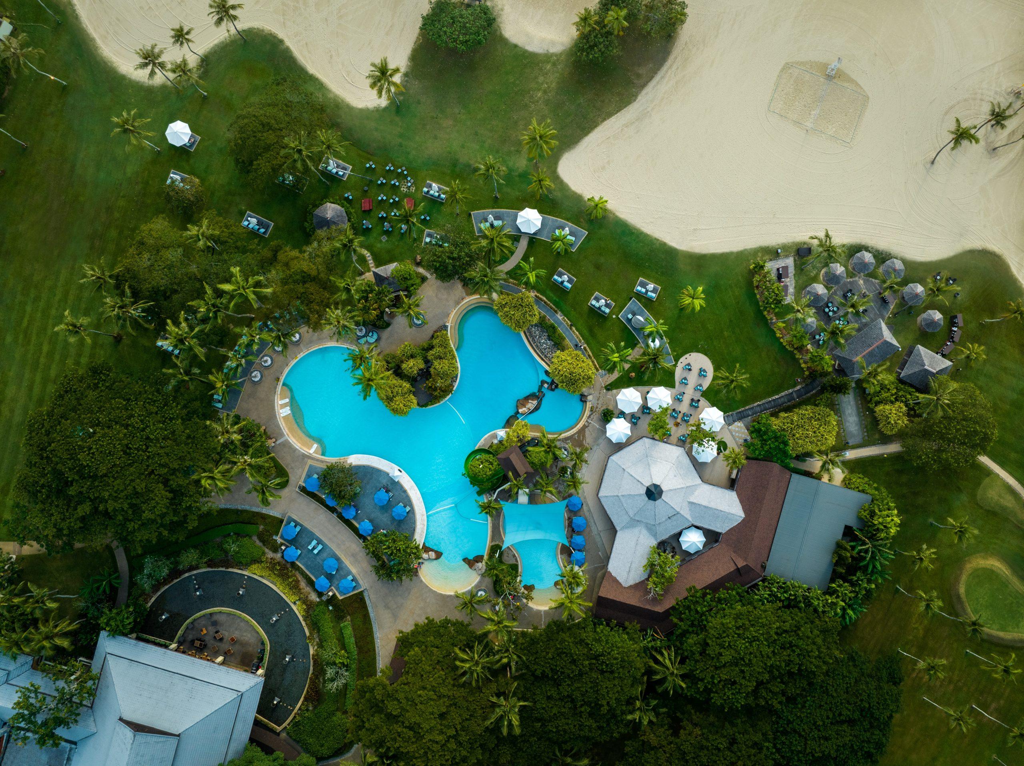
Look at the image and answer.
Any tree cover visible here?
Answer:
Yes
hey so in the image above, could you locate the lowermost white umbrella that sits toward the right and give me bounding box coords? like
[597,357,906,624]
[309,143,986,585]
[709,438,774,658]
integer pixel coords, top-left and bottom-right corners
[678,525,705,553]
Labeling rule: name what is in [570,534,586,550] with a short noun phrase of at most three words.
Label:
umbrella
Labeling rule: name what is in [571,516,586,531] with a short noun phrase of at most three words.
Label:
umbrella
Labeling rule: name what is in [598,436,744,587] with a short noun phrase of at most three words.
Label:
building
